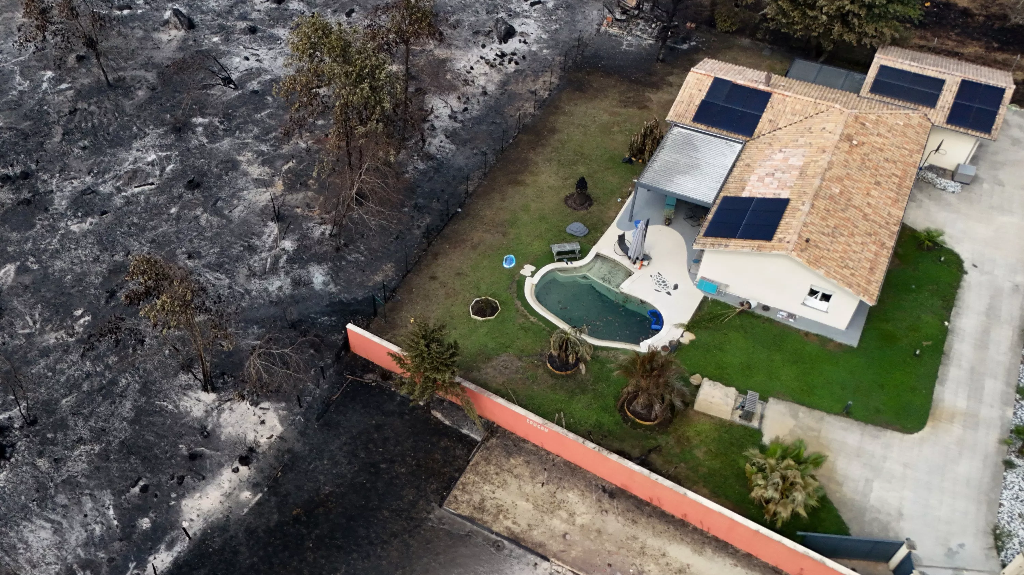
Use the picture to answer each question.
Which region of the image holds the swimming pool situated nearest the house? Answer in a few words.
center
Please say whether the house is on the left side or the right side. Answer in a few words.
right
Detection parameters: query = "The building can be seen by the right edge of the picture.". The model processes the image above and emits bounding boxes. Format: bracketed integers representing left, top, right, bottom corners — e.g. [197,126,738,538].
[666,43,1014,330]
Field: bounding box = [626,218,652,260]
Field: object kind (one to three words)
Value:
umbrella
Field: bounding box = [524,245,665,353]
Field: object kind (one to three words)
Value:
swimming pool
